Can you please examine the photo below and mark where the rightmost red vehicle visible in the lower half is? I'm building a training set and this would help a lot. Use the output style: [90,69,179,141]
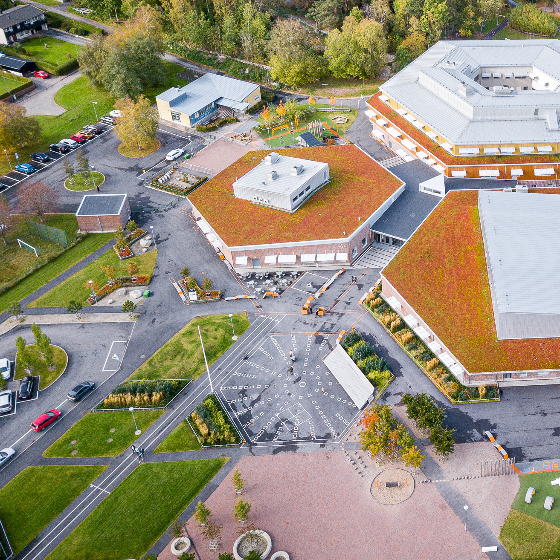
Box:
[28,408,64,434]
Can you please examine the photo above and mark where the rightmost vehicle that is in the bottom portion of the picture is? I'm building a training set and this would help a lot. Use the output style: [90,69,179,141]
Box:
[64,379,96,403]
